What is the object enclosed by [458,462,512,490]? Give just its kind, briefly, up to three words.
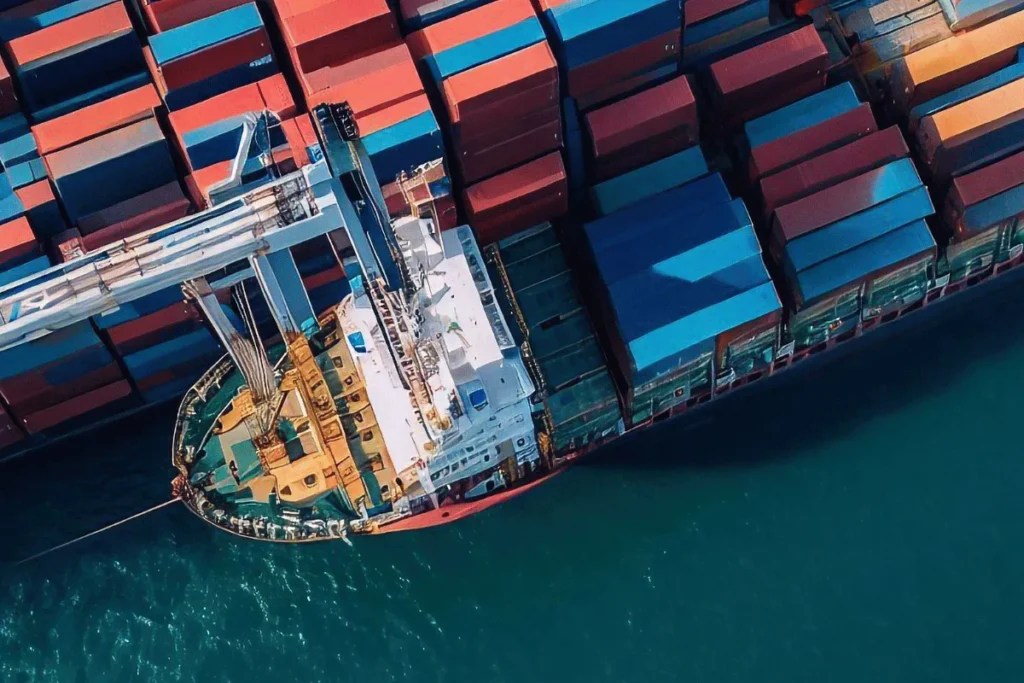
boat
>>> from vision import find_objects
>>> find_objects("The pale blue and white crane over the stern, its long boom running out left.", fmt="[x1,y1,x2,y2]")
[0,95,454,455]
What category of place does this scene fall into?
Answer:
port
